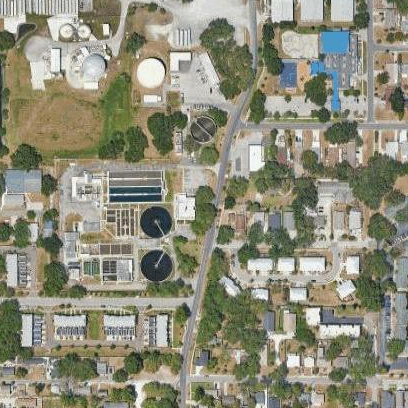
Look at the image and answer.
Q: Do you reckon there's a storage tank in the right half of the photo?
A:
No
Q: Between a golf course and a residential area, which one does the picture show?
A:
residential area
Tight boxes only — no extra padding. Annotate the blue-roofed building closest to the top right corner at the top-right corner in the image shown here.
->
[322,32,350,52]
